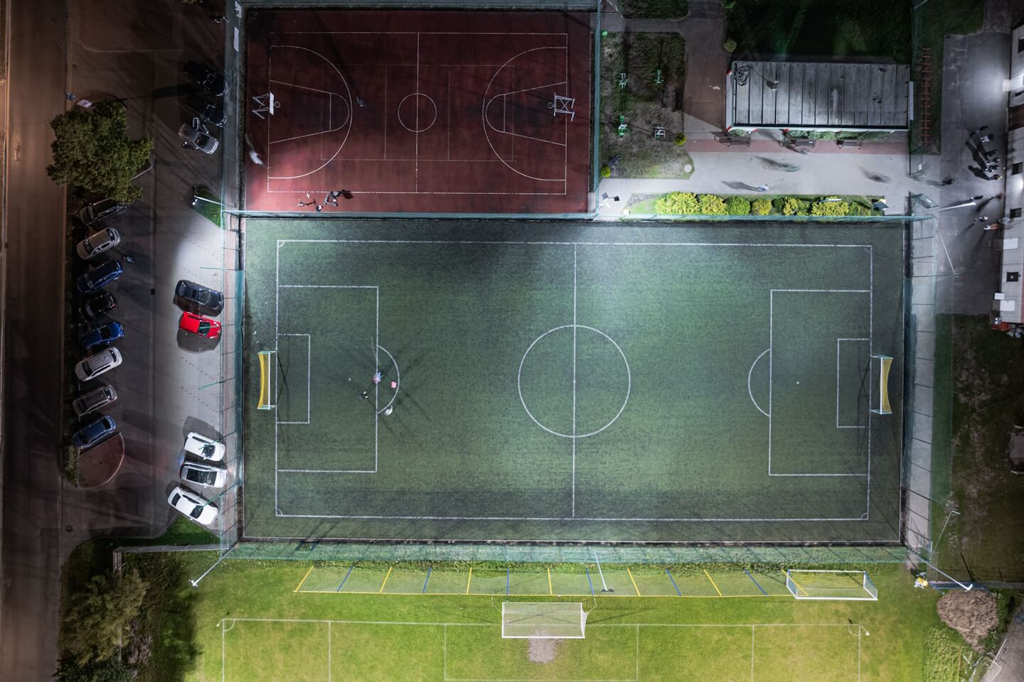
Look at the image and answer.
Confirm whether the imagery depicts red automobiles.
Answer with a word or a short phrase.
Yes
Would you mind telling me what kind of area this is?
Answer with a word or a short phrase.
sports ground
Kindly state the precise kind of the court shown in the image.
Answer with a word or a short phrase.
basketball court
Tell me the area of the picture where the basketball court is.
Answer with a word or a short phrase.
top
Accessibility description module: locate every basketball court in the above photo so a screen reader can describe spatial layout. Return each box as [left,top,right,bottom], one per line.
[245,10,593,213]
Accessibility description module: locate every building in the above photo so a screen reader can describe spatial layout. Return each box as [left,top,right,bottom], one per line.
[1000,23,1024,327]
[724,60,912,131]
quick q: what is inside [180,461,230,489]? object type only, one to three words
car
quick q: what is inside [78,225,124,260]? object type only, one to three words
car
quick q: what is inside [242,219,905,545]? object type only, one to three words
soccer field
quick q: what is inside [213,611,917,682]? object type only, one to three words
sports field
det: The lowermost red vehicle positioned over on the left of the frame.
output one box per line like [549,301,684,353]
[180,313,223,339]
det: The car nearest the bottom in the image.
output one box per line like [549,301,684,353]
[169,487,220,523]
